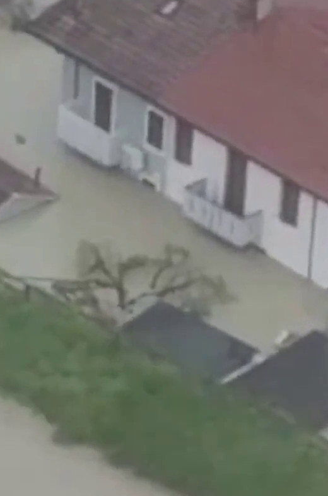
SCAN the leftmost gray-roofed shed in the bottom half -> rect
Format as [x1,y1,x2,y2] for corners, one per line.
[109,299,257,391]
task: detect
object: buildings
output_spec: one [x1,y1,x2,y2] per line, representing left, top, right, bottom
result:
[22,0,328,286]
[218,329,328,446]
[0,162,59,236]
[109,299,257,391]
